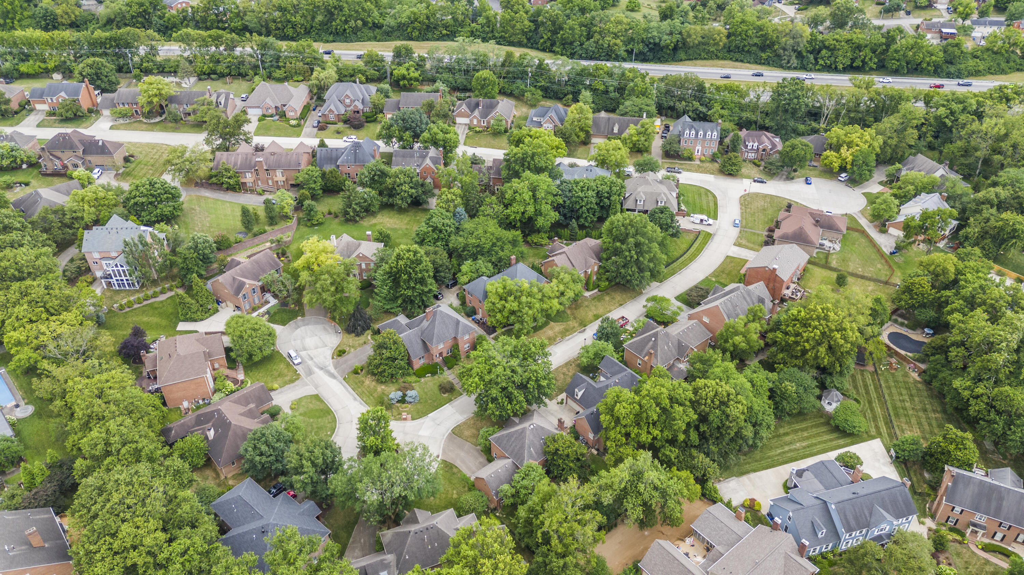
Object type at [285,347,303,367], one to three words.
car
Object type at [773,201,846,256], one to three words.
house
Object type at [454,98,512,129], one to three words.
house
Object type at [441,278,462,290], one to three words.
vehicle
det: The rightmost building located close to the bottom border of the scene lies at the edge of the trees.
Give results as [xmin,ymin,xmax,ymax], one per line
[931,466,1024,549]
